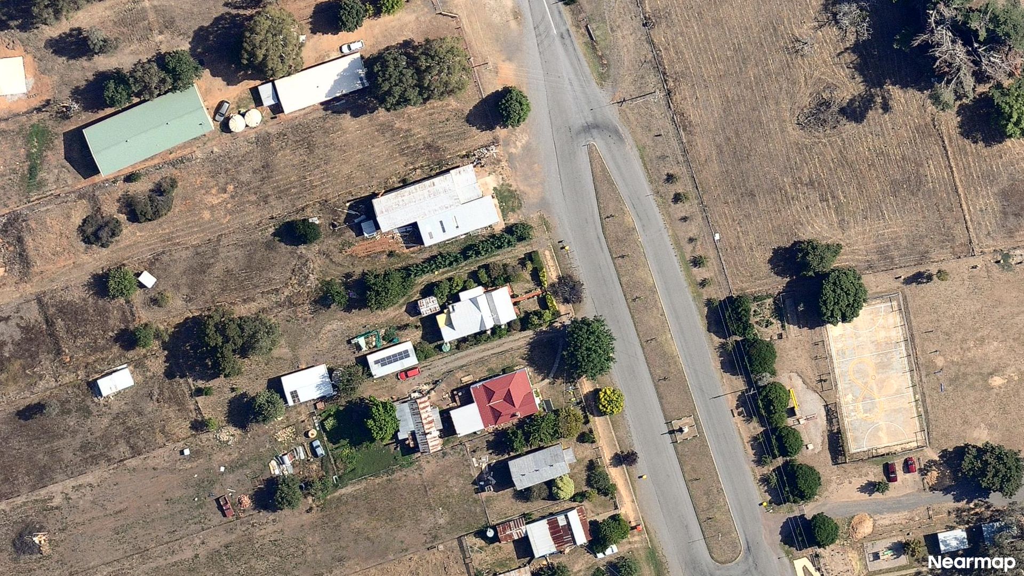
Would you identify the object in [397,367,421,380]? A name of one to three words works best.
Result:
vehicle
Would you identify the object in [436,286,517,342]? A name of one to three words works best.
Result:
house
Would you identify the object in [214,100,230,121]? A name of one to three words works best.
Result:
car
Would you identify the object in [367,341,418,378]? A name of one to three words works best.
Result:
shed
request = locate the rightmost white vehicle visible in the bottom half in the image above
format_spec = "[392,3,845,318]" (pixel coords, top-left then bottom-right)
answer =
[595,545,619,558]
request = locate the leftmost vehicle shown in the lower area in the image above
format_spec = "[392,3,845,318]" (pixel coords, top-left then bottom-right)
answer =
[218,494,233,518]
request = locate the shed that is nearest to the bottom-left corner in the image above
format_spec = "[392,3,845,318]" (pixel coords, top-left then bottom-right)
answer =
[89,364,133,397]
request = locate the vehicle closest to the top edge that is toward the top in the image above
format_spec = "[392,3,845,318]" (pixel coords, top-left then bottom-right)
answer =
[340,40,364,54]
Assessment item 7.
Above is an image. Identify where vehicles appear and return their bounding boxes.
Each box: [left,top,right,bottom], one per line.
[397,367,421,380]
[888,462,898,483]
[906,456,916,474]
[312,438,325,459]
[595,545,619,558]
[218,494,233,518]
[214,100,230,121]
[340,40,364,54]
